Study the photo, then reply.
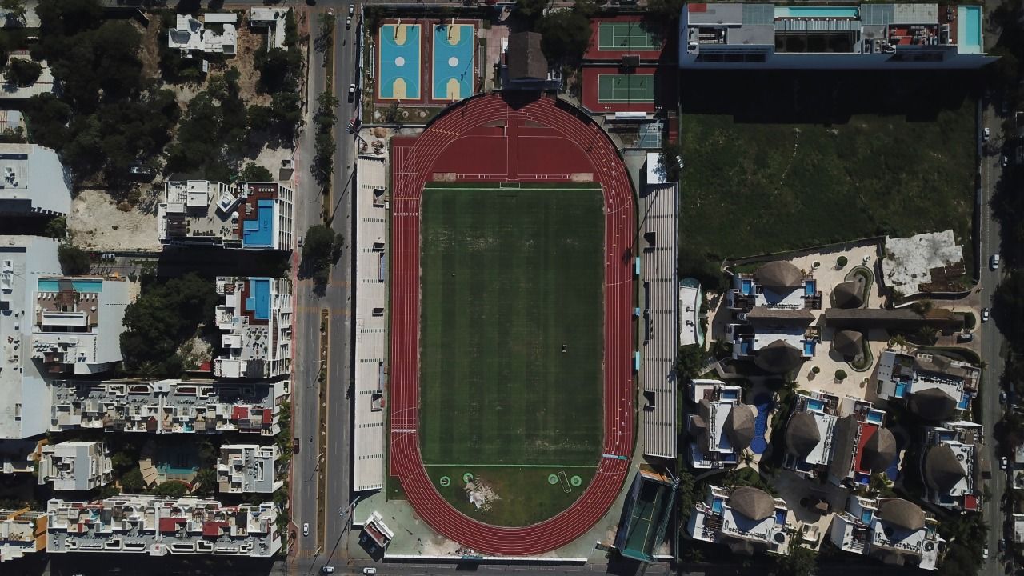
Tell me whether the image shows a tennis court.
Yes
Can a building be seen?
Yes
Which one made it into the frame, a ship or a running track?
running track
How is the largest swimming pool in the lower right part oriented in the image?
vertically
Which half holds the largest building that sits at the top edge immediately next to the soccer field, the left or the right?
right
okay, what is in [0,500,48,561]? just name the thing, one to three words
building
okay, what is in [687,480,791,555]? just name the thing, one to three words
house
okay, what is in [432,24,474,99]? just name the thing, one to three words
basketball court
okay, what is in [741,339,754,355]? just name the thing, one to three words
swimming pool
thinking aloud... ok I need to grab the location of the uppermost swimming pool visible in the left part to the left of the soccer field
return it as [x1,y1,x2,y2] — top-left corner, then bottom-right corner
[243,199,274,246]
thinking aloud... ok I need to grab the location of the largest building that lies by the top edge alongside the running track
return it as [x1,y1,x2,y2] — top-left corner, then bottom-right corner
[677,3,1002,71]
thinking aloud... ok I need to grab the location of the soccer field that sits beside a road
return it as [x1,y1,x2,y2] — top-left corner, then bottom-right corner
[419,182,605,528]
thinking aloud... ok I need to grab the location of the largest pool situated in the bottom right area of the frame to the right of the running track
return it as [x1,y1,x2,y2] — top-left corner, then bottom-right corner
[749,393,774,454]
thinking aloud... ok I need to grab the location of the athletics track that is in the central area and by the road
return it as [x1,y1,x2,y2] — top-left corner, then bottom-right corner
[390,94,633,555]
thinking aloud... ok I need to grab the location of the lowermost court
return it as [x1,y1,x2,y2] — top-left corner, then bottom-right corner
[619,470,675,560]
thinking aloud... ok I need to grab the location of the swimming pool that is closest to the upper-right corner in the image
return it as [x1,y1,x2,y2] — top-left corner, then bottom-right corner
[965,5,982,47]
